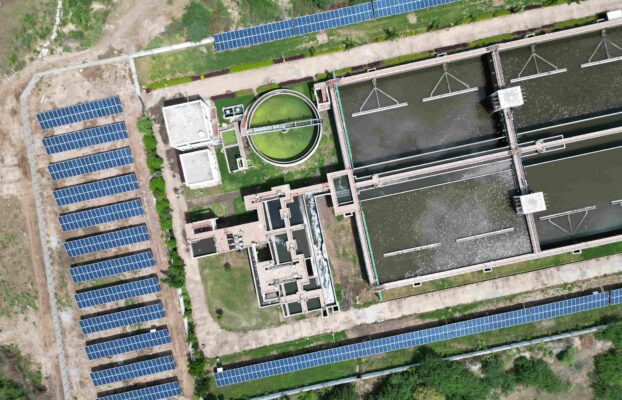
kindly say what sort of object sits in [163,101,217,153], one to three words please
building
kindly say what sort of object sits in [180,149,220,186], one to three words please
building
